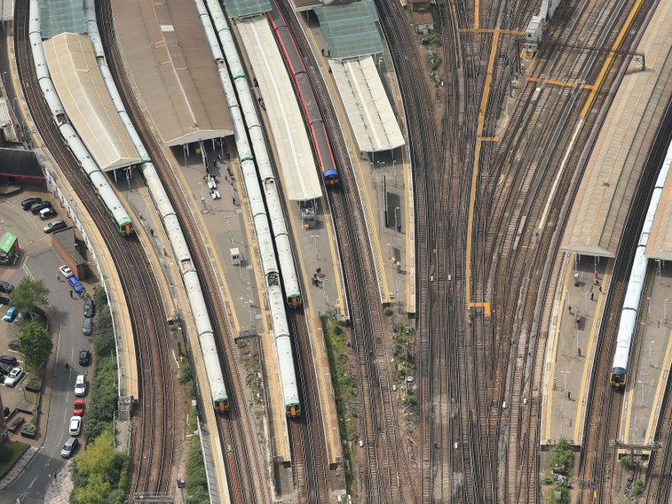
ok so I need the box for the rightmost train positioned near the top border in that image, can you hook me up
[267,0,336,186]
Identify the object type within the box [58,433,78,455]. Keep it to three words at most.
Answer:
car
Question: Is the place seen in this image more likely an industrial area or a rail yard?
rail yard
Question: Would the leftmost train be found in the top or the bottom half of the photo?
top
